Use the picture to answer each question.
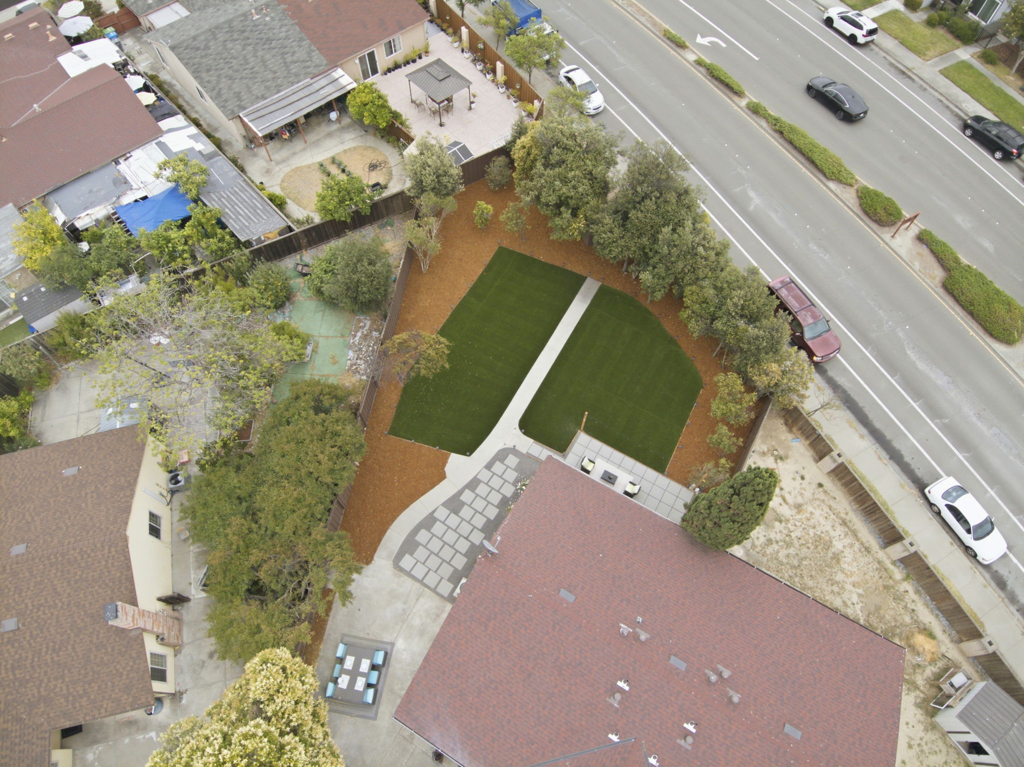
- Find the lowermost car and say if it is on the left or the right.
right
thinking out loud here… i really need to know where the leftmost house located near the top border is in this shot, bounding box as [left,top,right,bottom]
[0,5,165,227]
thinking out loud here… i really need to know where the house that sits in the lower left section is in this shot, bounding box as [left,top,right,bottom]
[0,421,184,767]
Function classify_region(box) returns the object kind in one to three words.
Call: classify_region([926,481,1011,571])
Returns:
car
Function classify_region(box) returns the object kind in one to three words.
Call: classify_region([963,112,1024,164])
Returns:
car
